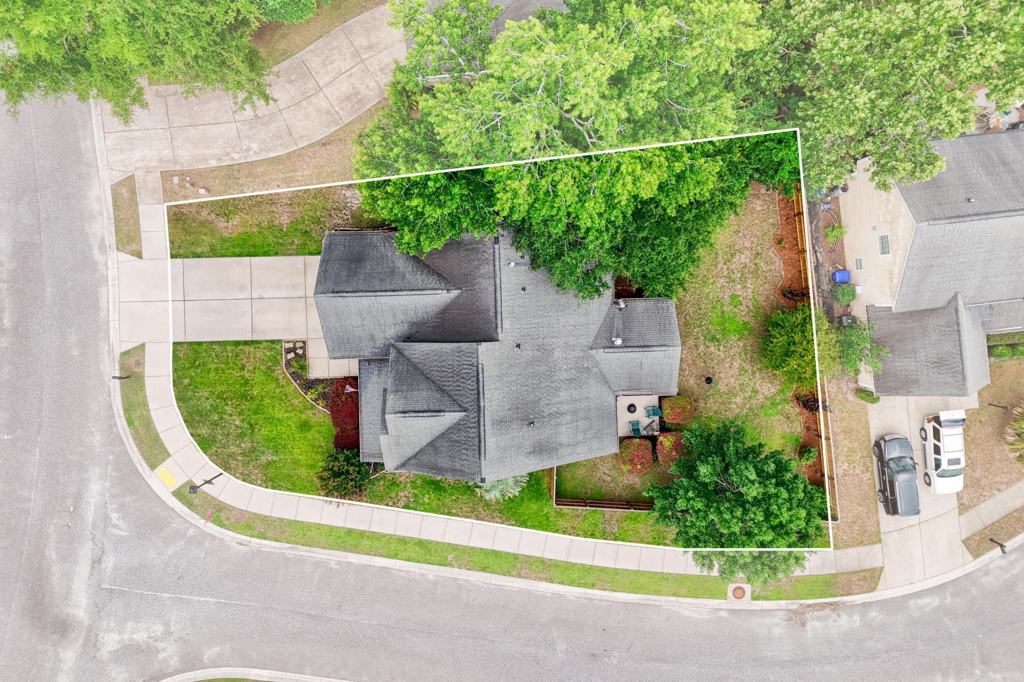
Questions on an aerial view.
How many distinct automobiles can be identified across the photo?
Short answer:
2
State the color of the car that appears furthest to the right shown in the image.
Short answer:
white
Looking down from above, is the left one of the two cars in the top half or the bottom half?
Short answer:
bottom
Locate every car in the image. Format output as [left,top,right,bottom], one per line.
[874,432,925,519]
[918,411,963,494]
